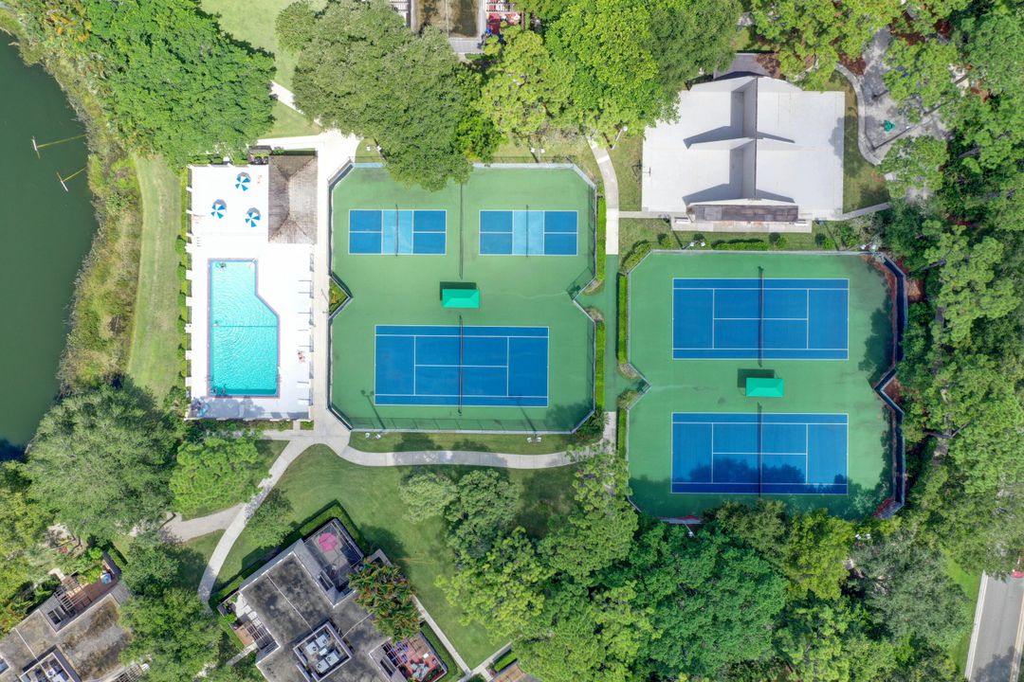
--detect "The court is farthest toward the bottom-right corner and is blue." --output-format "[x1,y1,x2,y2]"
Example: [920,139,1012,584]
[671,405,848,502]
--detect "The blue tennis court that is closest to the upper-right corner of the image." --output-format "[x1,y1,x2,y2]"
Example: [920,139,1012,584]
[673,270,849,366]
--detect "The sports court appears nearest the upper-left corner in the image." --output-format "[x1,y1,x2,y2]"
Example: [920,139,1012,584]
[349,204,447,257]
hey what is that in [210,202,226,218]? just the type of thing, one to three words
umbrella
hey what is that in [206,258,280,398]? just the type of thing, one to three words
swimming pool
